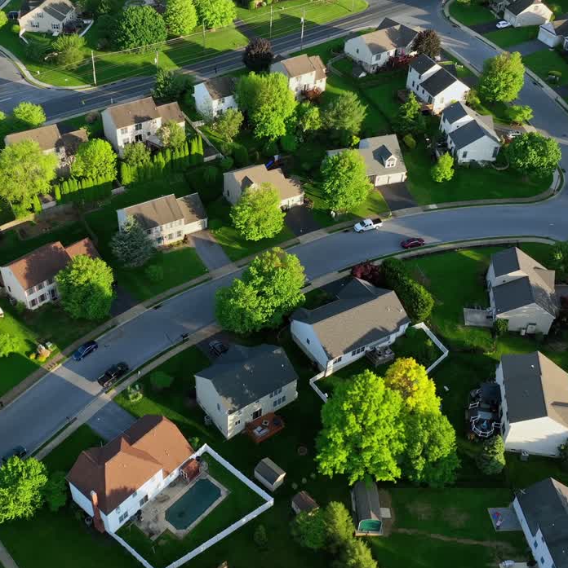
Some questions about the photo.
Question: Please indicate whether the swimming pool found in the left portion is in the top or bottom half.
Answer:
bottom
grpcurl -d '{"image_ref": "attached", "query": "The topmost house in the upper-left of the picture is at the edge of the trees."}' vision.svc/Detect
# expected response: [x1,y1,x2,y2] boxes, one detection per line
[18,0,74,34]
